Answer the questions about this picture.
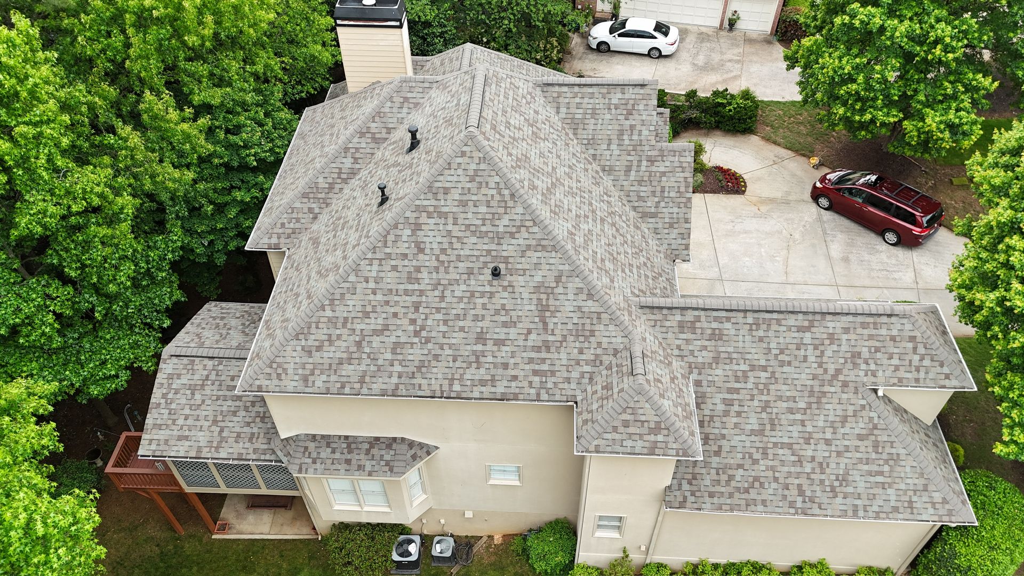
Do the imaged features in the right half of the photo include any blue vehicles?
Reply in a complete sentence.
No, looking in the right half of the photo, there is no blue vehicle.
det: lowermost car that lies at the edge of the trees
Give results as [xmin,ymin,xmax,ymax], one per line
[810,170,944,251]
